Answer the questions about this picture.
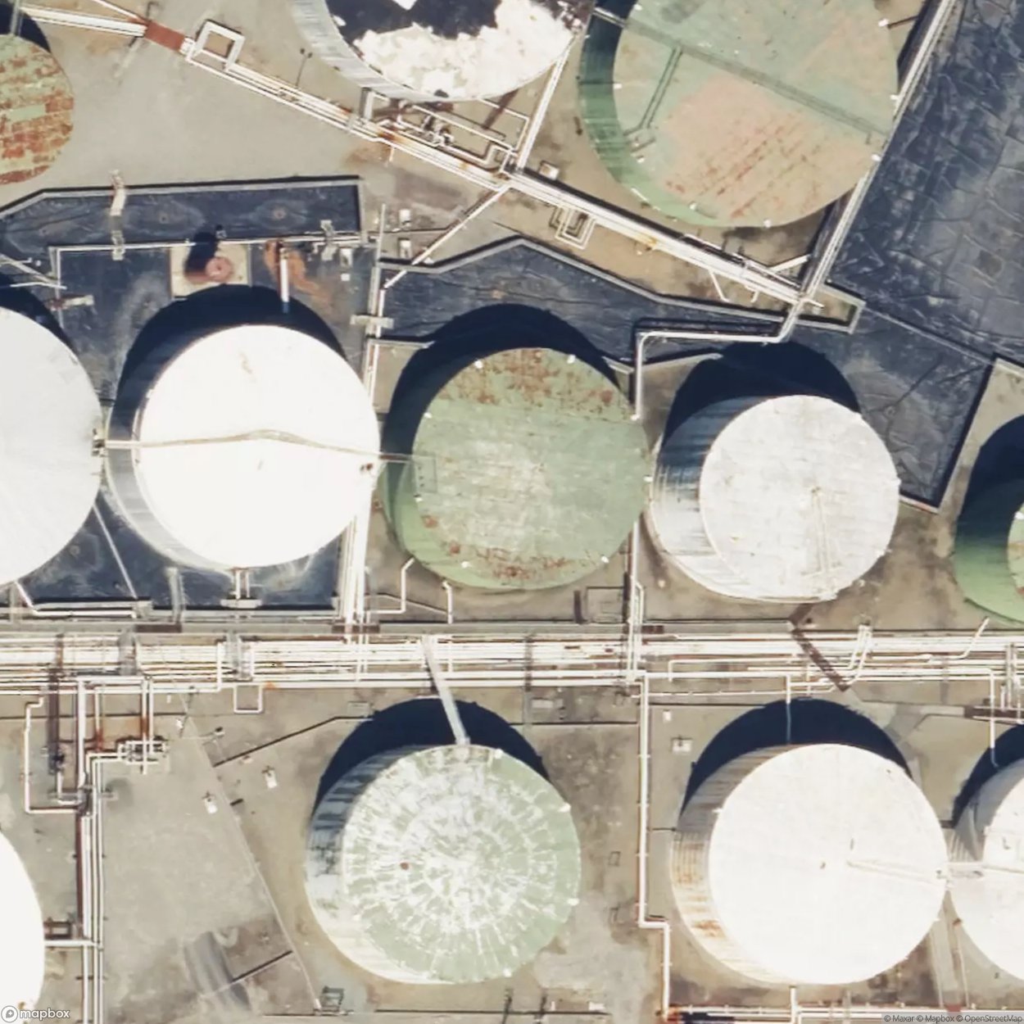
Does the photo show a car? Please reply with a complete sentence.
No, this view has no car in it.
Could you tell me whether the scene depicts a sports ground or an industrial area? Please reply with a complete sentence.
It's an industrial area.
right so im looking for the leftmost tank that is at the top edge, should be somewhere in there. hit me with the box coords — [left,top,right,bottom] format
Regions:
[0,33,75,185]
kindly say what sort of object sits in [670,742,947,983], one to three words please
storage tank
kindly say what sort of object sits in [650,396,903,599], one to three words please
storage tank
